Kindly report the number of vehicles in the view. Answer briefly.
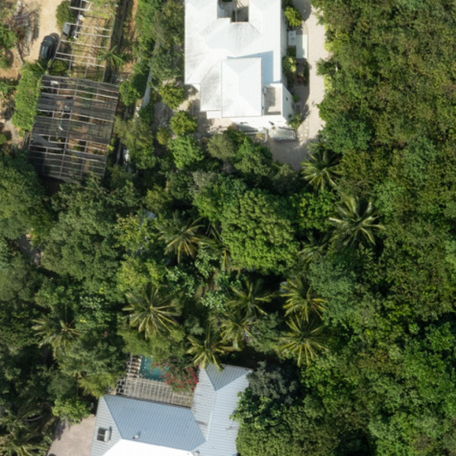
one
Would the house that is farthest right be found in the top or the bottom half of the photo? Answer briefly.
top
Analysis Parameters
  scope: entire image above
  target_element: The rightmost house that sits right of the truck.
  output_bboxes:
[185,0,302,143]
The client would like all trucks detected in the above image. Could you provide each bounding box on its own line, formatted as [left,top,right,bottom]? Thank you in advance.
[39,33,61,66]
